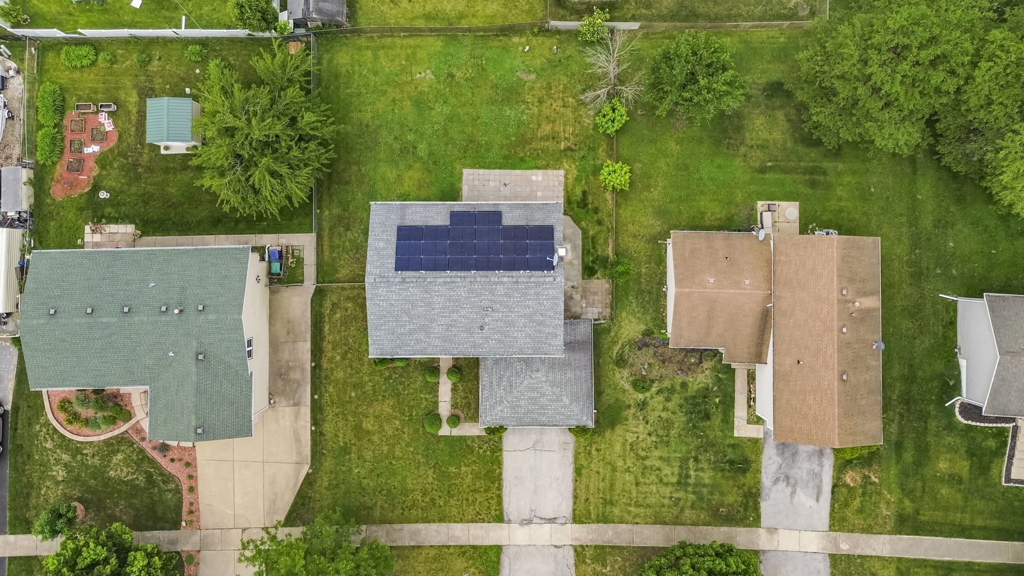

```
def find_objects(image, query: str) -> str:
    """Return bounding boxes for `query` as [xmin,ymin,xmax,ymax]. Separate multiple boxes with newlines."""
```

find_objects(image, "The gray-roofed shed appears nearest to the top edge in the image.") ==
[287,0,346,28]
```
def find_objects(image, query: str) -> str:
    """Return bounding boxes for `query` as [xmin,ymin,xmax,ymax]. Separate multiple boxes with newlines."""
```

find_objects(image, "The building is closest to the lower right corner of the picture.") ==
[940,292,1024,418]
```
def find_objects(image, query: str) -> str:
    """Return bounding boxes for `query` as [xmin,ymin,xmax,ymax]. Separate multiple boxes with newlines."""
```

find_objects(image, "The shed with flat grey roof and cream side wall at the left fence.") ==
[0,165,34,211]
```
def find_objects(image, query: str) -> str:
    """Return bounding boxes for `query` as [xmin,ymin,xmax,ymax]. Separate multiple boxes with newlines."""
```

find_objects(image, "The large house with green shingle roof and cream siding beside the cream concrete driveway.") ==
[19,244,270,443]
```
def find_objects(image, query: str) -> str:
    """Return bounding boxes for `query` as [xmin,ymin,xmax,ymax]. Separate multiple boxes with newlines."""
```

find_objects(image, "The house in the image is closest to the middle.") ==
[365,200,605,429]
